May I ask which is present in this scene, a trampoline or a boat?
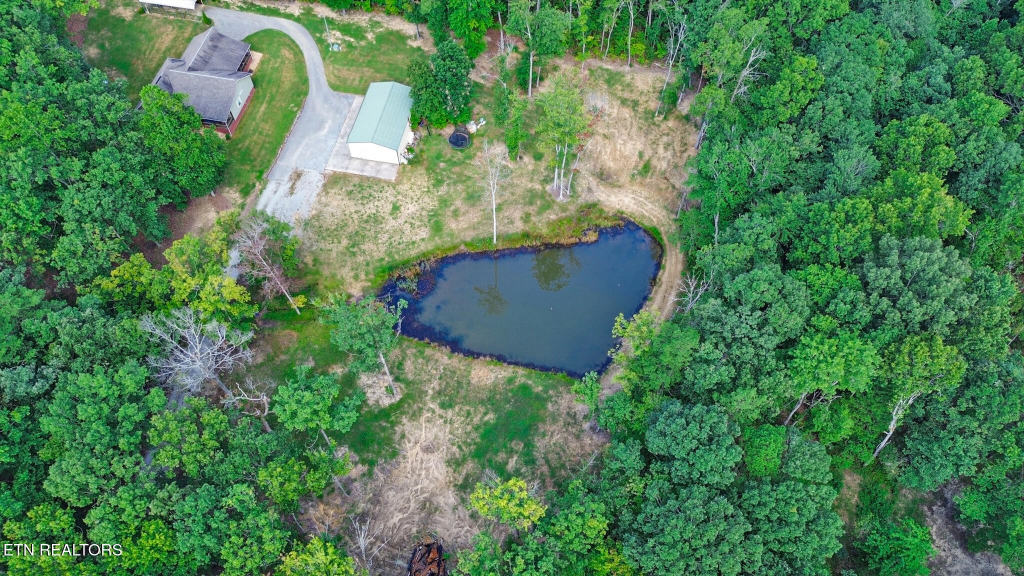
trampoline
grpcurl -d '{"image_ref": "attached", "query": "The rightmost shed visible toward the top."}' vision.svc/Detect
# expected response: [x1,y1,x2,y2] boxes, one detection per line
[346,80,421,163]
